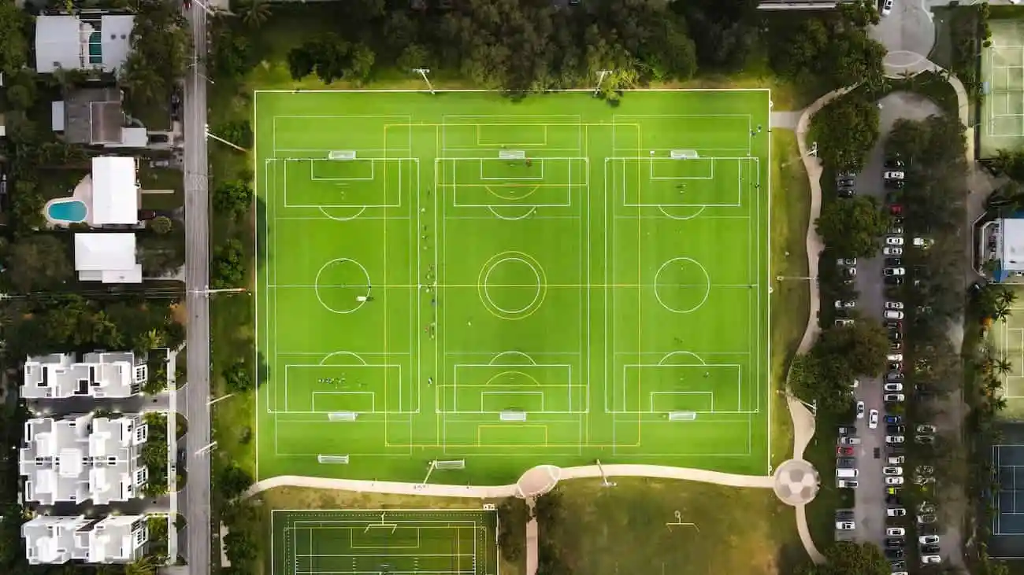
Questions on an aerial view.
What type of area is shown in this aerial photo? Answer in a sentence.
The picture captures a sports ground.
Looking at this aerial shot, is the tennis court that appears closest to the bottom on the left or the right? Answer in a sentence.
The tennis court that appears closest to the bottom appears in the right half of the scene.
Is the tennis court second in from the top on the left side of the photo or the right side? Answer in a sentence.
It is on the right.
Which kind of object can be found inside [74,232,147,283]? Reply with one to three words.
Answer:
house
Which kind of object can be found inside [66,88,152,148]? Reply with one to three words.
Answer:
house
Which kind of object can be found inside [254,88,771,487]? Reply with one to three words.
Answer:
sports field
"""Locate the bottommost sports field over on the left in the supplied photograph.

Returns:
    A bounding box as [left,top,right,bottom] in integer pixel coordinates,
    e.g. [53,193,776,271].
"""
[271,510,498,575]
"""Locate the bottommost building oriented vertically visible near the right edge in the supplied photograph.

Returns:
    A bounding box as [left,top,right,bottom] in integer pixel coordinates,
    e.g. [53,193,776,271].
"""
[987,210,1024,283]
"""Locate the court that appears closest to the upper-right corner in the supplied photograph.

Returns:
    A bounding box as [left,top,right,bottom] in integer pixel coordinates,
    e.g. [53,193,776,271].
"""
[984,19,1024,157]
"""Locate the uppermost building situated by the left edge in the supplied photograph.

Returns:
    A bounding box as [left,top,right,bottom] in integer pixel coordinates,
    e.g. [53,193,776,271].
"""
[34,12,138,81]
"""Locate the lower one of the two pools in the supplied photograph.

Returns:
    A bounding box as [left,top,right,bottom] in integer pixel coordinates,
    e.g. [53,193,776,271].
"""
[44,173,93,229]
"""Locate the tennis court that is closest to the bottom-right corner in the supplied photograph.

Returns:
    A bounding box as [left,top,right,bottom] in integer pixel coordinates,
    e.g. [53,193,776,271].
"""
[986,424,1024,558]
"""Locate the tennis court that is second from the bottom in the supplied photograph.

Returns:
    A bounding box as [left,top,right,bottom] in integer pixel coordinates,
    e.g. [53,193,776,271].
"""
[990,284,1024,422]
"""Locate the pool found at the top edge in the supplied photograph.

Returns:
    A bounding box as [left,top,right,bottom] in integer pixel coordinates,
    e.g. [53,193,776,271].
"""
[80,17,102,64]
